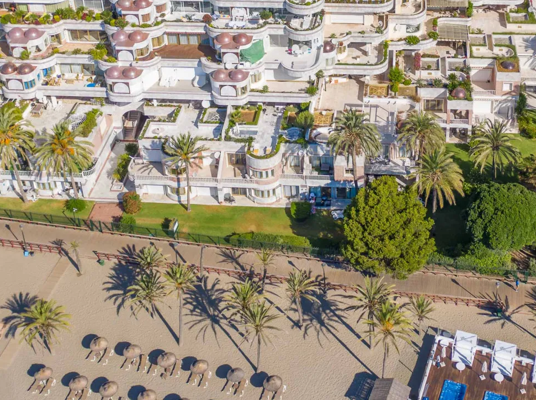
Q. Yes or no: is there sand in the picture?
Yes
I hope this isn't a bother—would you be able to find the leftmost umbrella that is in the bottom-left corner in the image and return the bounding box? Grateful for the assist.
[34,368,56,389]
